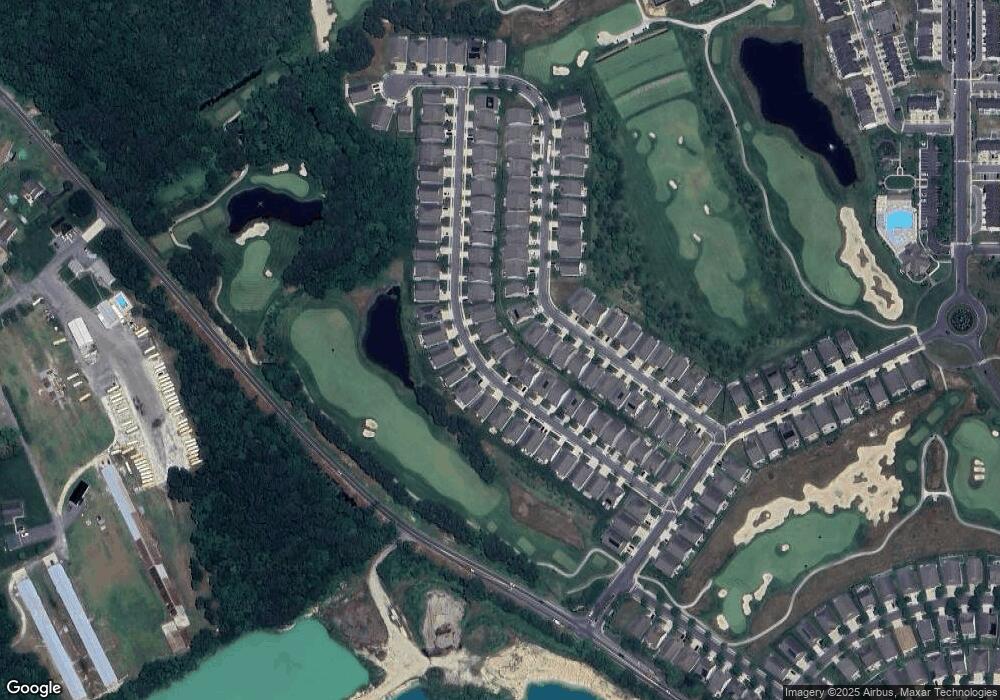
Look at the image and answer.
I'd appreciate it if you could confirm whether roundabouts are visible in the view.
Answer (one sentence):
Yes, looking at the shot, I can spot a roundabout.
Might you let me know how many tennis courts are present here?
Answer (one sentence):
The photo contains no tennis courts.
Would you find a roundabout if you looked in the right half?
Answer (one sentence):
Yes, I can see a roundabout in the right half.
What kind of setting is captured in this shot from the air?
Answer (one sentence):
What you see here is a residential area.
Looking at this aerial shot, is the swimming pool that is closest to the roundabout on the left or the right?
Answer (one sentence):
The swimming pool that is closest to the roundabout is on the right side of the image.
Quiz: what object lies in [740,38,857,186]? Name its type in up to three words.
pond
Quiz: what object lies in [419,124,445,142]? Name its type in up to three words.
house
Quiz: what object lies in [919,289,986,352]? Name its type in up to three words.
roundabout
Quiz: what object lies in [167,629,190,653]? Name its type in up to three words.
shed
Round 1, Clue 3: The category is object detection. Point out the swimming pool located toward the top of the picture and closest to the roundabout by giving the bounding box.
[876,195,918,255]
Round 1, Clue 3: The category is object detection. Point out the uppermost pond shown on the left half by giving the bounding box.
[228,186,324,234]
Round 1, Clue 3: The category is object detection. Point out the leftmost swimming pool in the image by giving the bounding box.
[112,292,133,314]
